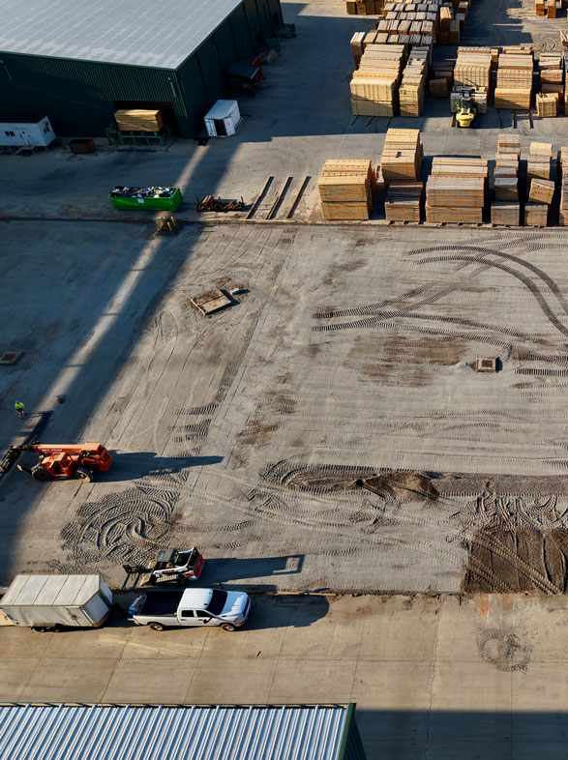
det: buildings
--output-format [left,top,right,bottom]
[0,694,365,760]
[0,0,281,140]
